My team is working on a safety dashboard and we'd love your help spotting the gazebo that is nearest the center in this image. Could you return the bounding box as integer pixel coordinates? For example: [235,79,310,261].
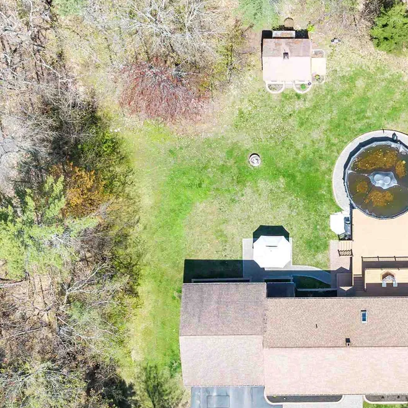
[253,236,292,267]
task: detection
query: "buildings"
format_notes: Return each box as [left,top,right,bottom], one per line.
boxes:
[262,31,310,86]
[179,281,408,396]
